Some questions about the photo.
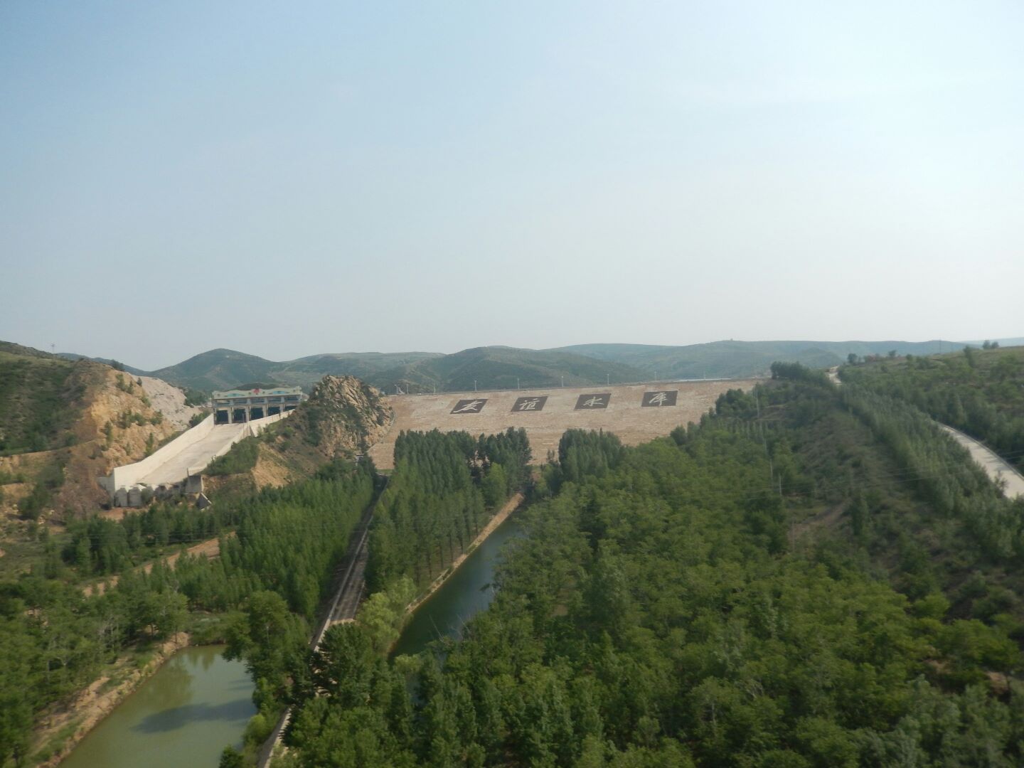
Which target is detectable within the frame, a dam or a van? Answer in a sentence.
Visible in the photo is a dam.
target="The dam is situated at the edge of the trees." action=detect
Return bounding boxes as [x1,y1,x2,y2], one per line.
[371,376,771,461]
